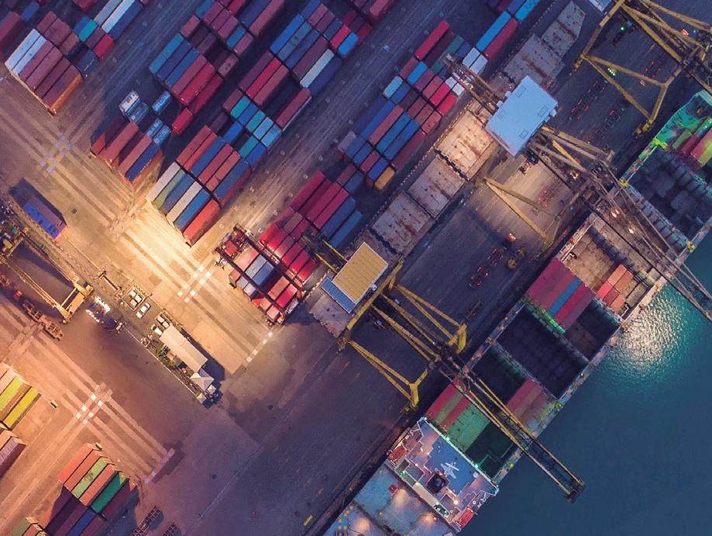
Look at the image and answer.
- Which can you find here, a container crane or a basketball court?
container crane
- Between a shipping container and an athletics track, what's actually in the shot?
shipping container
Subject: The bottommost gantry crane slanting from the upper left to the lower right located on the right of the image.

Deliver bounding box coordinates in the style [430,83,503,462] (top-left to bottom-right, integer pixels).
[296,227,587,504]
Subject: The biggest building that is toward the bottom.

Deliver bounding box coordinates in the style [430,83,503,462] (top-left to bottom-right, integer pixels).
[159,325,207,373]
